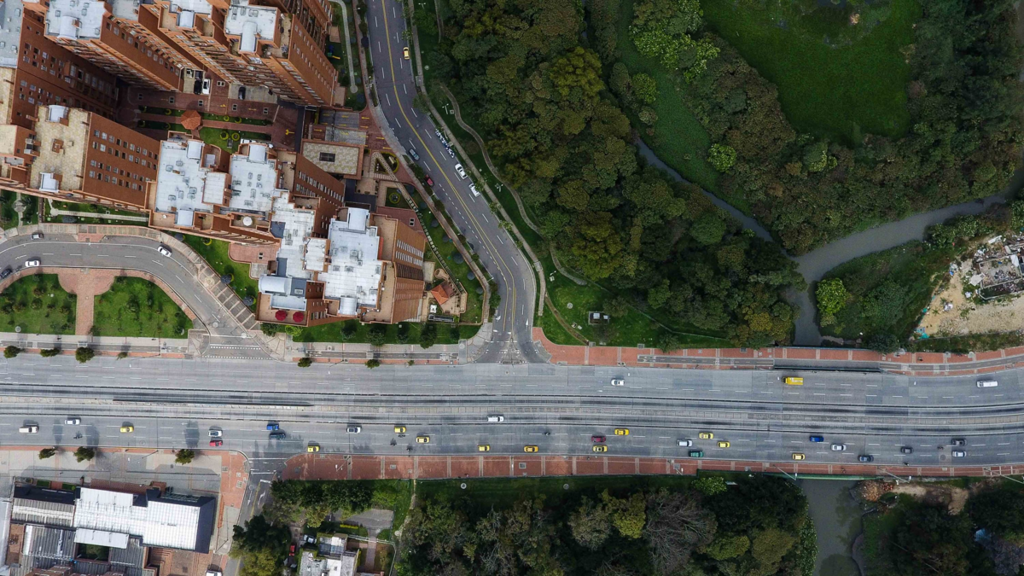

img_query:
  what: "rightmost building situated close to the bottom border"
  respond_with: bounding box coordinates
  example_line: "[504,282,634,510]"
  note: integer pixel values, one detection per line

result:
[299,530,359,576]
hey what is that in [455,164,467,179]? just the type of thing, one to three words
vehicle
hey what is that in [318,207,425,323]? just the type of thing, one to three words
building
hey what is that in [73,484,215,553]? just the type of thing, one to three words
building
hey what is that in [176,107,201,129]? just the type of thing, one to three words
gazebo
